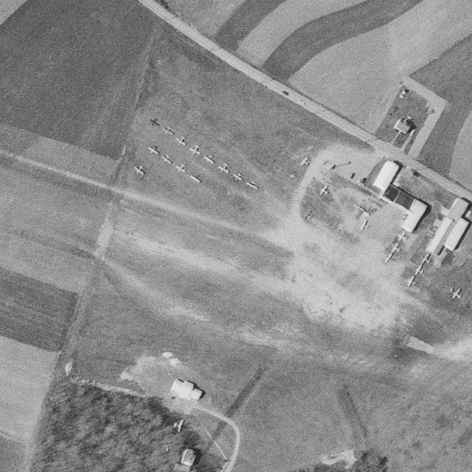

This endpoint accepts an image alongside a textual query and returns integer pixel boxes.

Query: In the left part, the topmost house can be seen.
[170,380,202,400]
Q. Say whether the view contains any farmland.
Yes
